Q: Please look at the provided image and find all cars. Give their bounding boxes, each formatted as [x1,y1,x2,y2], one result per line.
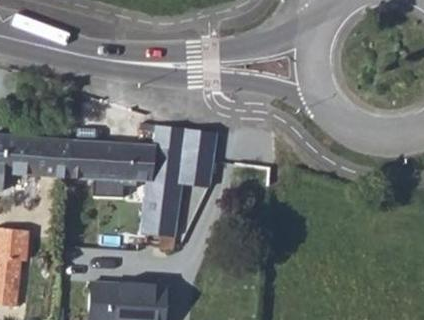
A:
[68,264,88,274]
[98,44,122,54]
[145,48,164,58]
[93,258,118,269]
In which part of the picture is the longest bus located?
top left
